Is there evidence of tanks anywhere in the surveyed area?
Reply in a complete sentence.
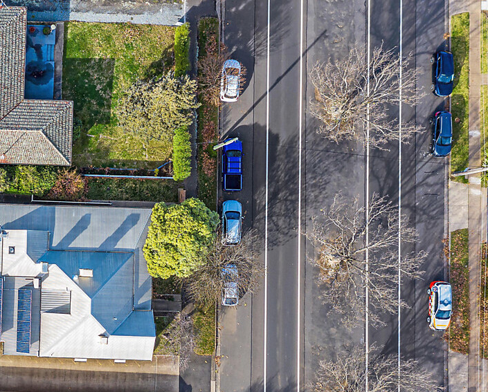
No, there's no tank here.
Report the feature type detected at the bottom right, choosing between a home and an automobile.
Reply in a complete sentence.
The one visible at the bottom right is an automobile.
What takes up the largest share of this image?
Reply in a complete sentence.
The largest share of the image is taken up by paved ground.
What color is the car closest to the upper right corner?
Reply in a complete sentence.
In this view, the car closest to the upper right corner is blue.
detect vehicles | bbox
[428,110,454,158]
[430,50,456,97]
[221,137,245,189]
[426,282,453,330]
[220,57,242,103]
[221,200,245,245]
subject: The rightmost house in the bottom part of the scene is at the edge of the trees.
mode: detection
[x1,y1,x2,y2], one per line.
[32,248,156,363]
